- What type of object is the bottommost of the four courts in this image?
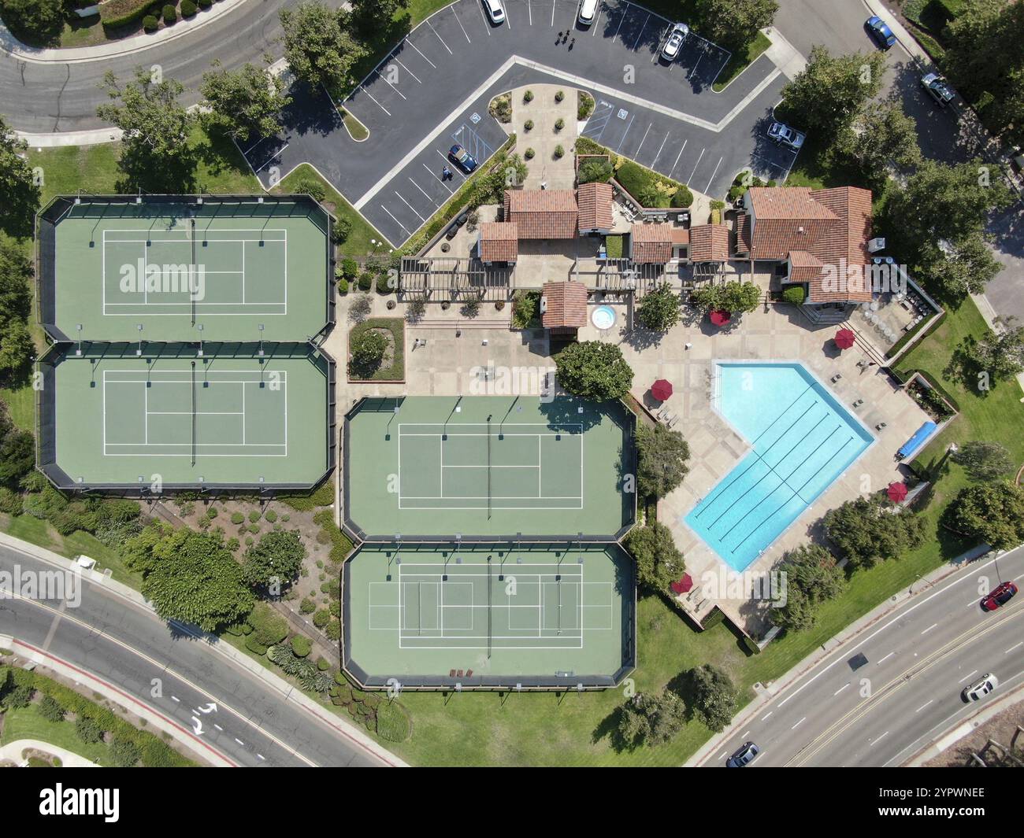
tennis court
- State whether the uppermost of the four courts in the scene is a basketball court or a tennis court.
tennis court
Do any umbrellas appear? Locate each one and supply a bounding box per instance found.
[885,482,906,502]
[708,309,729,327]
[651,379,671,400]
[670,572,692,593]
[832,328,853,349]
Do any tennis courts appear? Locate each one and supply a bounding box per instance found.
[55,343,334,484]
[350,397,632,536]
[350,541,632,676]
[55,202,330,342]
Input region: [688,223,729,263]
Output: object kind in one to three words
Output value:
building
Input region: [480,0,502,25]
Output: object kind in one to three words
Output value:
car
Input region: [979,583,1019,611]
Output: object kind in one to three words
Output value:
car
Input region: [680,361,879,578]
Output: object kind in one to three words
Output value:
swimming pool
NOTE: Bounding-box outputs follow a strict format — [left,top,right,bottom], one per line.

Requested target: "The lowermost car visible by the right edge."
[961,673,1000,702]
